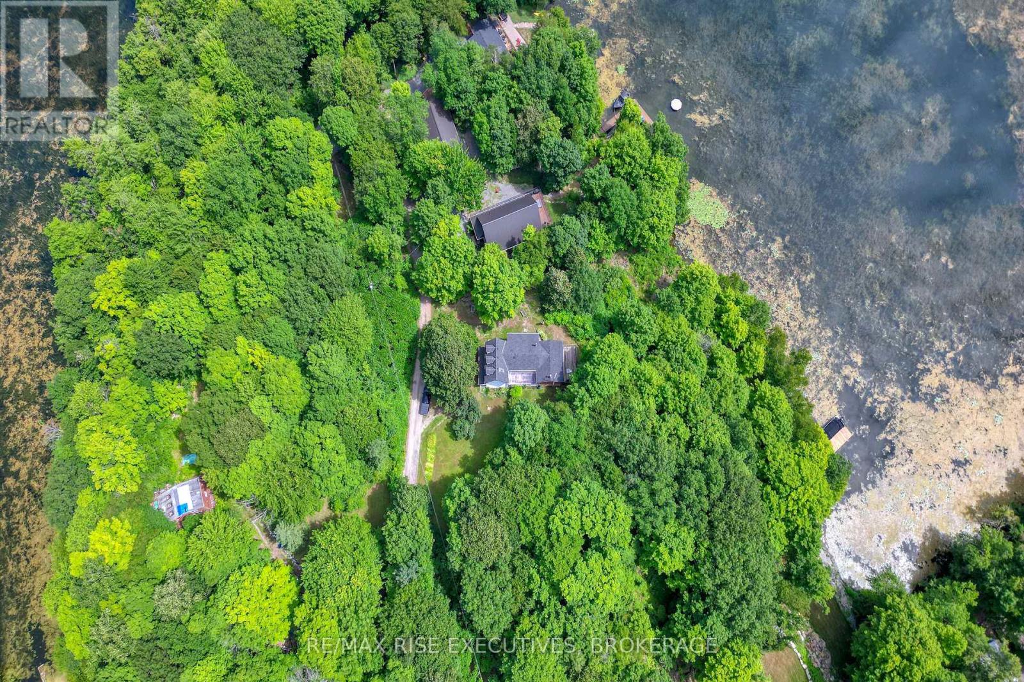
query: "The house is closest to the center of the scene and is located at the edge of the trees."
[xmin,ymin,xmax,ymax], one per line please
[478,333,577,391]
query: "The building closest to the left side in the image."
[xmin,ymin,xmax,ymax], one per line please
[154,478,215,528]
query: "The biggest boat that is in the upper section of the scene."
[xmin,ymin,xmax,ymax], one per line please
[611,87,629,110]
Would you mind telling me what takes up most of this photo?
trees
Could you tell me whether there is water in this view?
Yes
